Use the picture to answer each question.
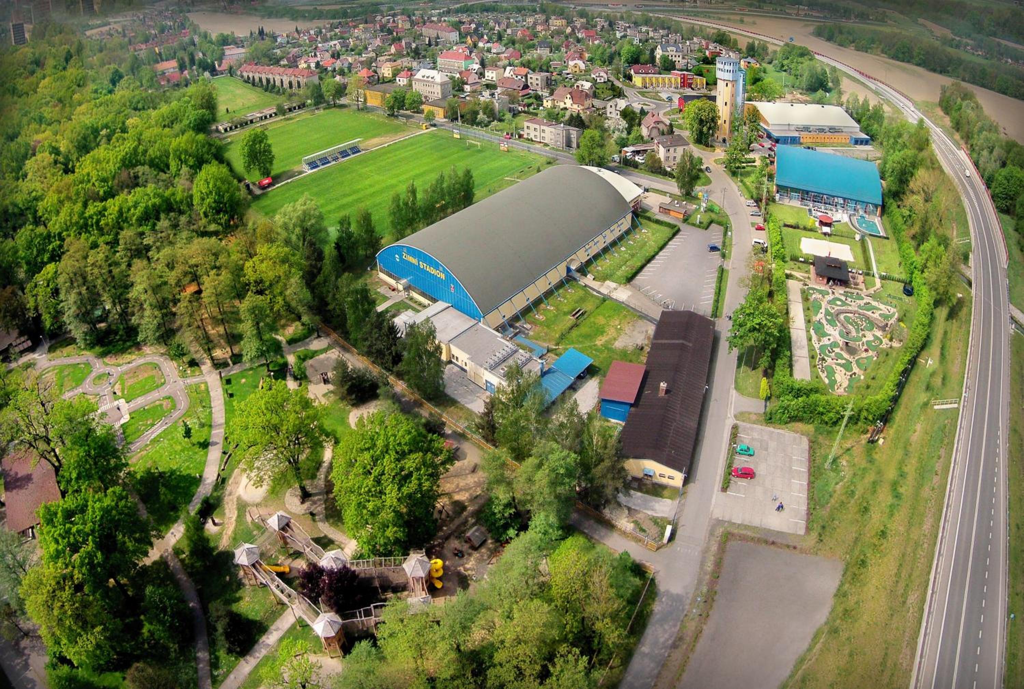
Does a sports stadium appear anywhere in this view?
Yes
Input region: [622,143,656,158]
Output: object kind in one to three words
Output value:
shed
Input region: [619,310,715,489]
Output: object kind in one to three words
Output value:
building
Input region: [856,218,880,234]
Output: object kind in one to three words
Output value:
swimming pool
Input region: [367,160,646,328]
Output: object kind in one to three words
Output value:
stadium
